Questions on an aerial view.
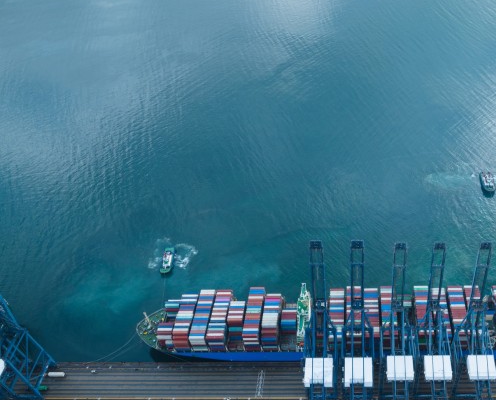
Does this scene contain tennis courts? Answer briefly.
No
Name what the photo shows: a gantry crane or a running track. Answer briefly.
gantry crane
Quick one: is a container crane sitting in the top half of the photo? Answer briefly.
No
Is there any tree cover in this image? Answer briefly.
No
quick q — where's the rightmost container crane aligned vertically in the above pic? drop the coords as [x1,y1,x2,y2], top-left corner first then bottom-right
[453,240,496,400]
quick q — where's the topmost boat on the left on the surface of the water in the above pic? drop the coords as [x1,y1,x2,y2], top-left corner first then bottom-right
[158,248,173,275]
